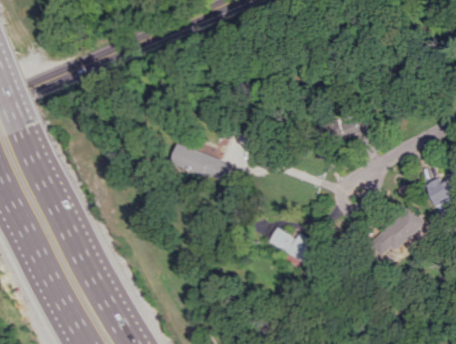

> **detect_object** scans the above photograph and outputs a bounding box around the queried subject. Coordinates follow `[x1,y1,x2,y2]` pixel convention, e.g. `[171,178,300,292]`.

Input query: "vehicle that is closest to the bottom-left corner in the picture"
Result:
[116,314,136,344]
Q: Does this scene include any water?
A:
No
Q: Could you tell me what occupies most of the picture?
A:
trees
